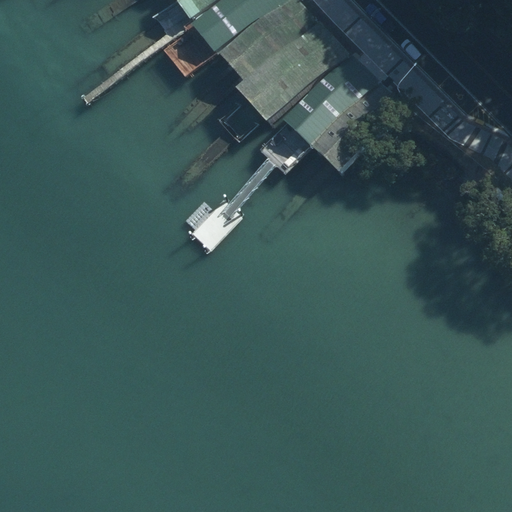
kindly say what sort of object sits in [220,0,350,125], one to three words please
building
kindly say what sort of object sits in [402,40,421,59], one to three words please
car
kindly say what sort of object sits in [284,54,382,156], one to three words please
building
